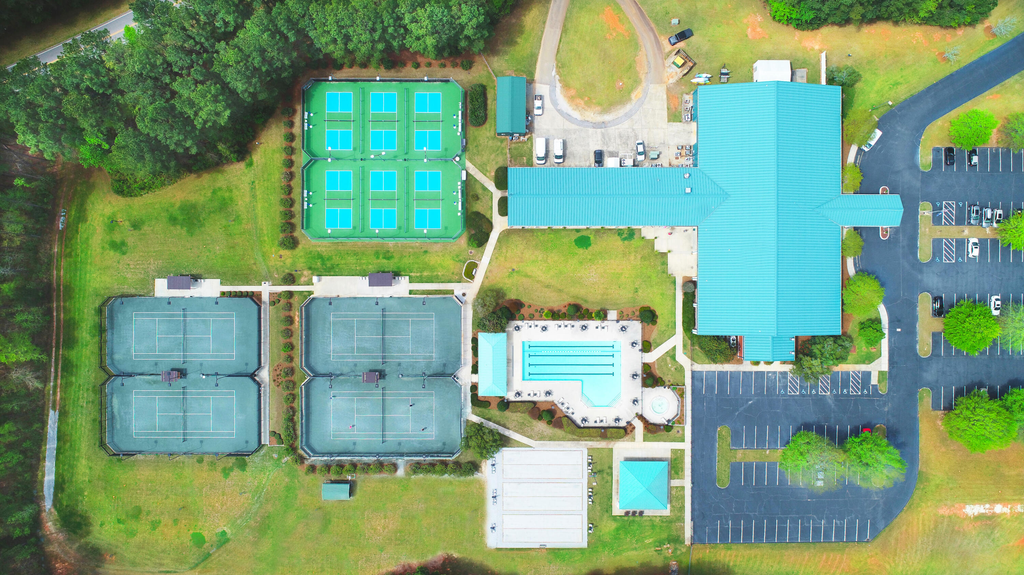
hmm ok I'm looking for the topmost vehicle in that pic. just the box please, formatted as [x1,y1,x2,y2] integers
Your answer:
[668,28,692,45]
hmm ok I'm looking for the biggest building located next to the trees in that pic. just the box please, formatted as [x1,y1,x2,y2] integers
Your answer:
[507,80,904,362]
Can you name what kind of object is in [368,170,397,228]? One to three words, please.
sports court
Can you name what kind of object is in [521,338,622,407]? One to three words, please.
swimming pool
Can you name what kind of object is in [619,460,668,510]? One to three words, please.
building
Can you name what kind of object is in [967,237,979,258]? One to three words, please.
vehicle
